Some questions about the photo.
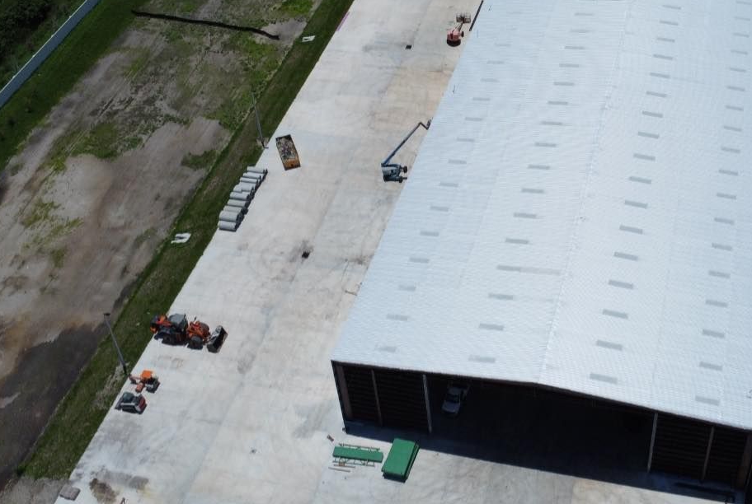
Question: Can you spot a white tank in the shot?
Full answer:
No, no white tank is visible in the scene.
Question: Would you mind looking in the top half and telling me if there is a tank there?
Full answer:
No, in the top half there is no tank.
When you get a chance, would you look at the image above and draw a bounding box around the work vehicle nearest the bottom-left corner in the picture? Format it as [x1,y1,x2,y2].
[111,388,147,414]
